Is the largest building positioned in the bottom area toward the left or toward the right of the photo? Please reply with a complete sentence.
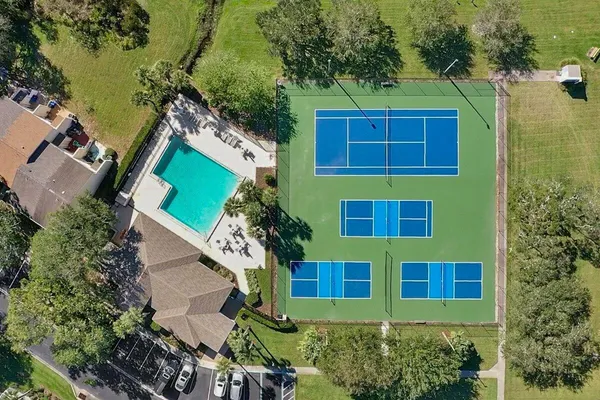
The largest building positioned in the bottom area appears in the left half of the scene.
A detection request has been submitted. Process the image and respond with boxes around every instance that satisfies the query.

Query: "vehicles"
[231,371,244,400]
[173,361,194,393]
[214,371,228,398]
[150,356,179,395]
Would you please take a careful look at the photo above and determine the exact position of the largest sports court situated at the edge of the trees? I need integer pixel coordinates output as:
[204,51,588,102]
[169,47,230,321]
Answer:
[277,81,499,321]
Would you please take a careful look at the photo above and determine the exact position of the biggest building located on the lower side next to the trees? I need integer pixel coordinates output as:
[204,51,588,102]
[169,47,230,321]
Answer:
[110,213,237,351]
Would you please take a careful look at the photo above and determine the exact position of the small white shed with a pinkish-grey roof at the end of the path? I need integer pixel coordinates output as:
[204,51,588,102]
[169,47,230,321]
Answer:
[560,64,582,83]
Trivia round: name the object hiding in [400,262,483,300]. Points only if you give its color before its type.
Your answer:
blue sports court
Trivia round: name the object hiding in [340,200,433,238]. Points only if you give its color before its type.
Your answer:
blue sports court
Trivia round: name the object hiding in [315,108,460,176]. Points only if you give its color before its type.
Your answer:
blue tennis court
